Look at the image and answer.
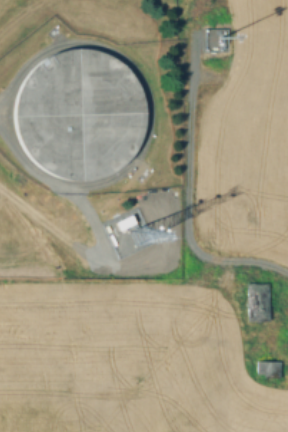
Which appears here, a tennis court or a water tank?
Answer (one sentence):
The one in the frame is a water tank.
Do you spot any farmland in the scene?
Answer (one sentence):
Yes, some farmland is visible.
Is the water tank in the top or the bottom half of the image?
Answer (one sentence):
The top half of the photo is where the water tank is.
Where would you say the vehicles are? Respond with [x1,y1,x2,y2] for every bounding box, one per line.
[110,235,118,246]
[106,224,113,234]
